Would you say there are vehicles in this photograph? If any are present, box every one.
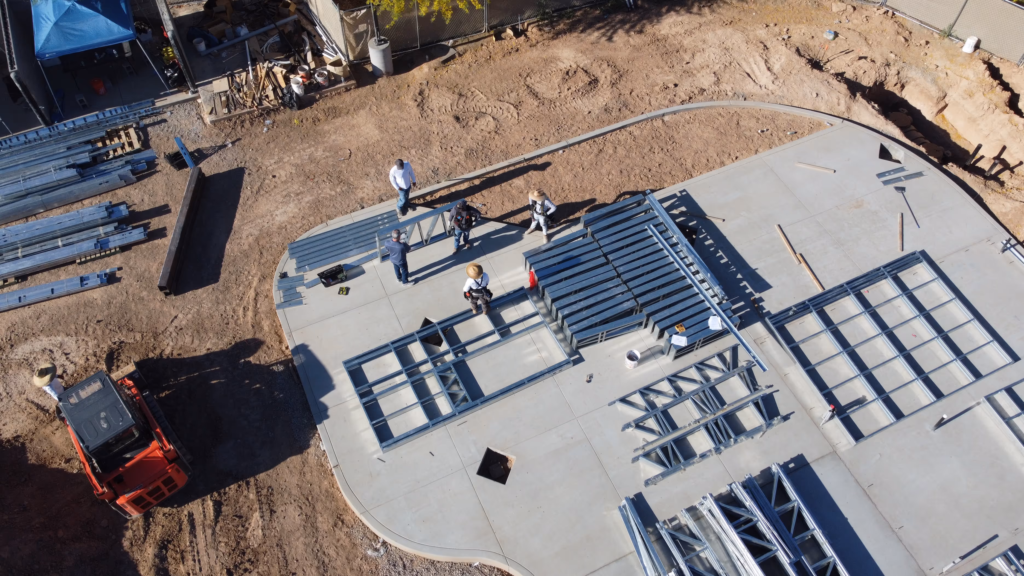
[59,374,206,525]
